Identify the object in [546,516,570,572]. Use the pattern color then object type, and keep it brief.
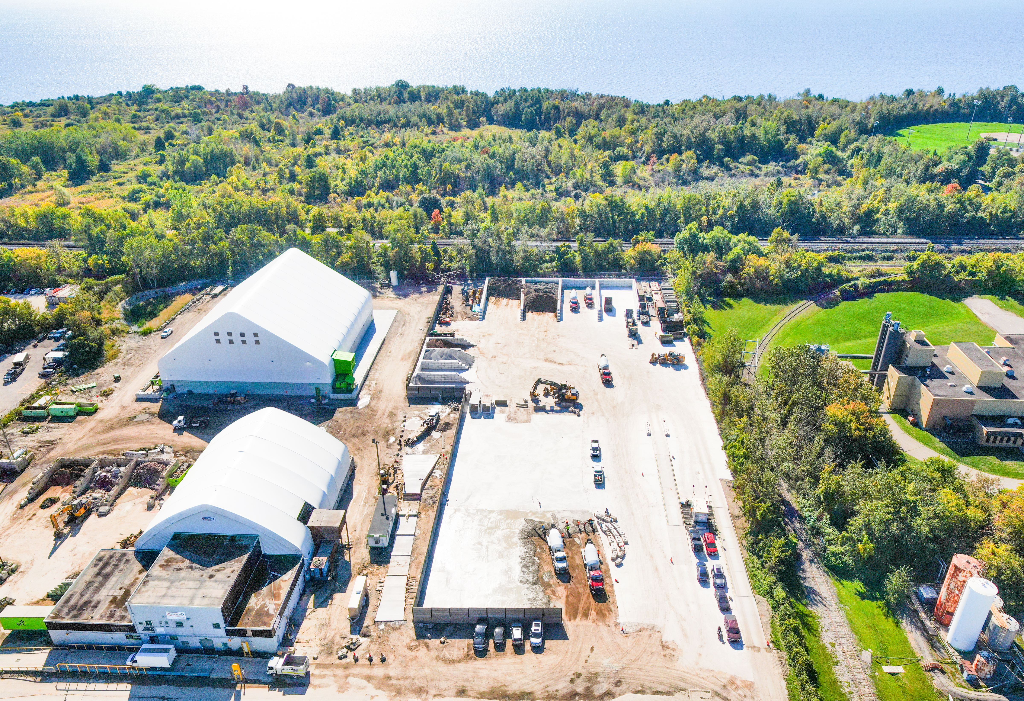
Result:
white truck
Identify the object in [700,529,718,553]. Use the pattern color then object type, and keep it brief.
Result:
red car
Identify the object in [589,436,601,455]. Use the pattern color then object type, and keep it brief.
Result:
white vehicle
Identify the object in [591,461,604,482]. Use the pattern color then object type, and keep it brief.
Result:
white vehicle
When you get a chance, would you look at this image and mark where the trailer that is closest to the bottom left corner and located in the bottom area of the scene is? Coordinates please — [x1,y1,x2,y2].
[0,598,54,628]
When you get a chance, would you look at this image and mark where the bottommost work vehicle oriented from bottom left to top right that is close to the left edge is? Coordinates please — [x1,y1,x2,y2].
[51,498,96,538]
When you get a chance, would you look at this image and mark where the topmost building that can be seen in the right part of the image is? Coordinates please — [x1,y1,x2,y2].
[885,318,1024,447]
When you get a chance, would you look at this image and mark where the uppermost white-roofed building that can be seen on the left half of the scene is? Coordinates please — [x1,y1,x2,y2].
[157,244,372,396]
